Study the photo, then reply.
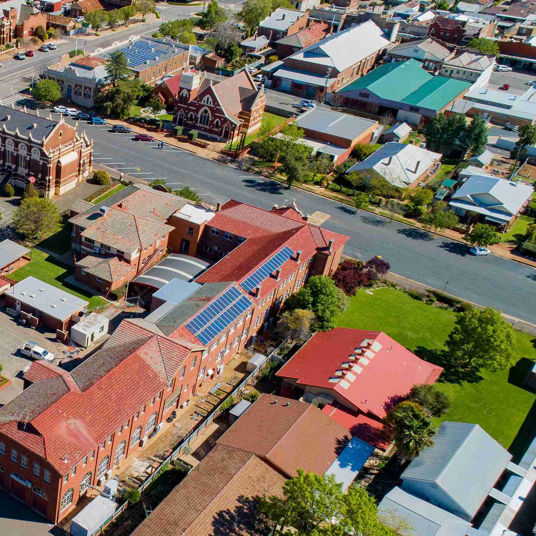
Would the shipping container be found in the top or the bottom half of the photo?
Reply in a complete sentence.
The shipping container sits in the bottom half of the picture.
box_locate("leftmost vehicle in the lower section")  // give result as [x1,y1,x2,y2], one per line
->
[21,341,55,363]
